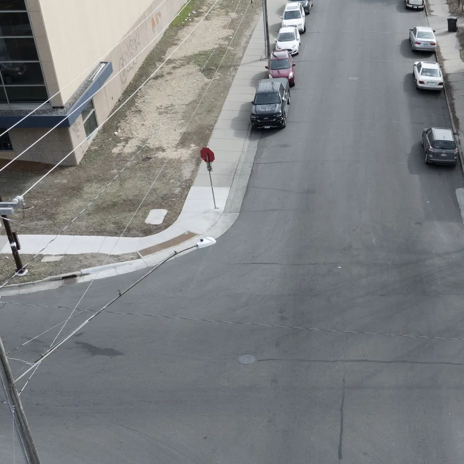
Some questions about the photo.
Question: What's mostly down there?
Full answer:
For the most part, this view shows paved ground.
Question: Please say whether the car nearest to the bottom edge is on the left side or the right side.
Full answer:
The car nearest to the bottom edge is on the right side of the image.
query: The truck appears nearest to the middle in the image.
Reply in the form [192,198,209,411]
[249,81,291,129]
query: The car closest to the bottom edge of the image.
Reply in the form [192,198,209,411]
[419,123,460,165]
